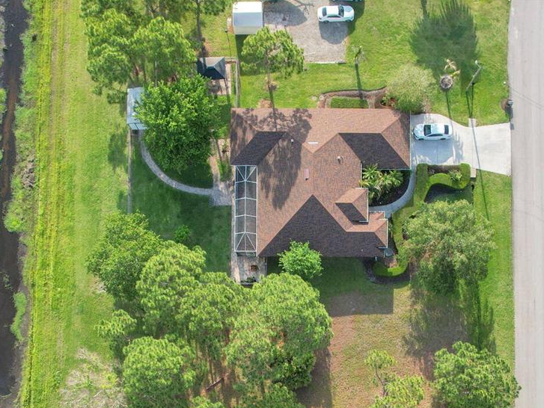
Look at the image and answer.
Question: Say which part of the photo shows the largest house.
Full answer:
The largest house is located in the center region of the scene.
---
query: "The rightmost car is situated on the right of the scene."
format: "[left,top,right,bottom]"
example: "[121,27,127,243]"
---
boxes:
[413,123,450,140]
